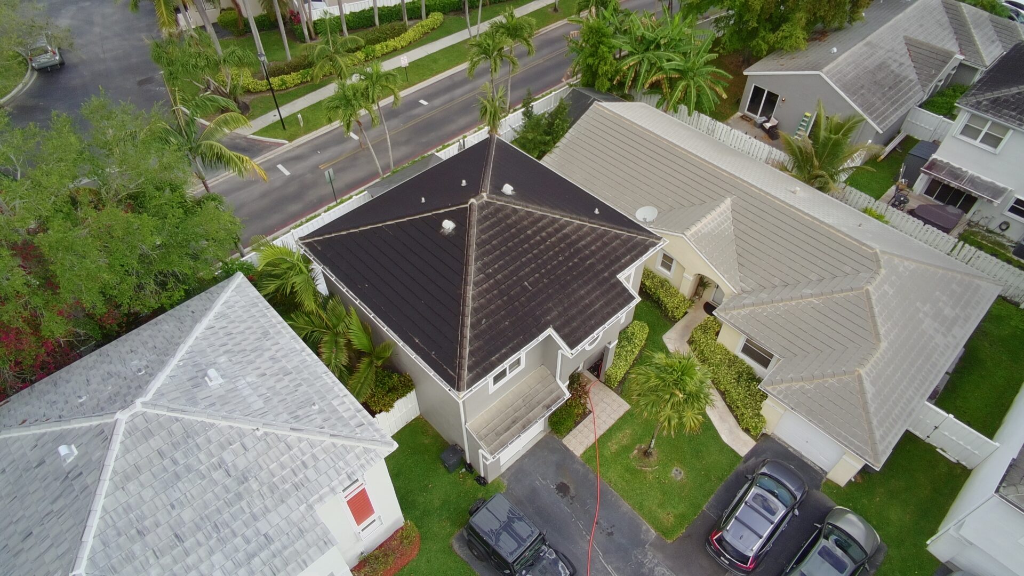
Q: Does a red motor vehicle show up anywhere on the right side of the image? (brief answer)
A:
No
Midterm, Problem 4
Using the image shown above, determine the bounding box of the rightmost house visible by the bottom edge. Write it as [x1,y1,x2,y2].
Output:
[909,402,1024,576]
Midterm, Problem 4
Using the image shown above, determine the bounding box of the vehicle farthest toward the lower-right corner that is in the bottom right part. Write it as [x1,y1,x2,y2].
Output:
[788,510,876,576]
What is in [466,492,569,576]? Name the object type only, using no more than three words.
car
